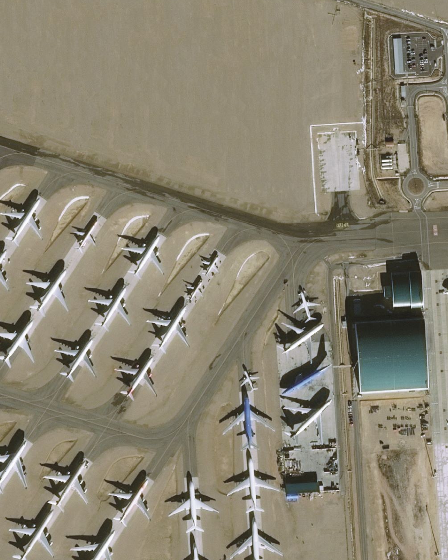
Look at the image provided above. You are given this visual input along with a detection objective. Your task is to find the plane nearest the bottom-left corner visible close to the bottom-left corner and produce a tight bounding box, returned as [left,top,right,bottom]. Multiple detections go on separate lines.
[9,509,54,560]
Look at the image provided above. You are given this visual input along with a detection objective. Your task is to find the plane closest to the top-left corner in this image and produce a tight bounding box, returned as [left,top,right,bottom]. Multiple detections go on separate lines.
[0,198,43,247]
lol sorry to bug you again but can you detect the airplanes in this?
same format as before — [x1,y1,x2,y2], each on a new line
[54,340,96,383]
[276,322,324,364]
[202,256,220,278]
[285,400,333,443]
[89,288,131,331]
[47,462,86,510]
[240,371,258,392]
[9,509,54,560]
[0,321,35,366]
[0,198,43,247]
[108,479,152,527]
[169,479,218,533]
[0,442,28,494]
[293,292,320,322]
[186,282,203,302]
[27,270,69,317]
[74,531,115,560]
[115,359,156,401]
[147,309,189,354]
[223,395,275,452]
[73,221,98,251]
[231,519,283,560]
[282,363,333,396]
[226,458,279,514]
[122,237,164,280]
